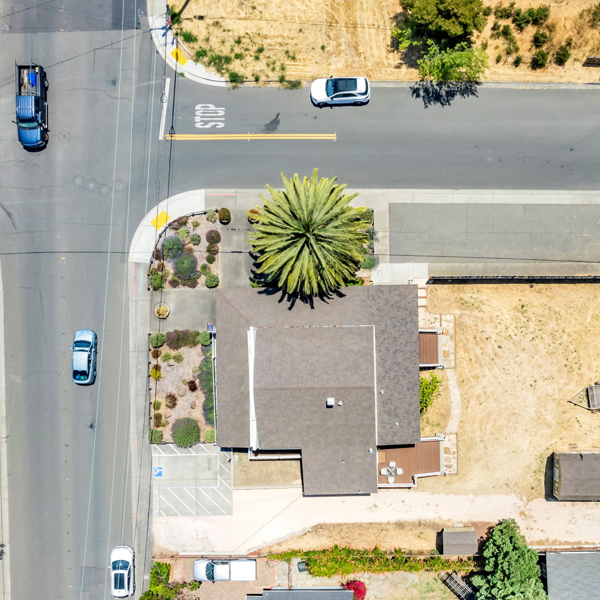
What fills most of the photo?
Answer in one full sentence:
The scene is dominated by paved ground.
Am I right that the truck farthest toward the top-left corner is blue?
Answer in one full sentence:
Yes, the truck farthest toward the top-left corner appears blue.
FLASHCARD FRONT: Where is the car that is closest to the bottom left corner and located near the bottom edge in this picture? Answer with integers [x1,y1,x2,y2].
[106,542,136,599]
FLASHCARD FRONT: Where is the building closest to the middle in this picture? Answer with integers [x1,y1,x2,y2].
[215,283,420,494]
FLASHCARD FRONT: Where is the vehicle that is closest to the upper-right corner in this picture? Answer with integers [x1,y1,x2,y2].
[310,74,370,106]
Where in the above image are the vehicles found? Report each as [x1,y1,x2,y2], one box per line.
[195,558,257,586]
[310,74,370,106]
[106,542,136,599]
[16,62,50,147]
[69,329,99,385]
